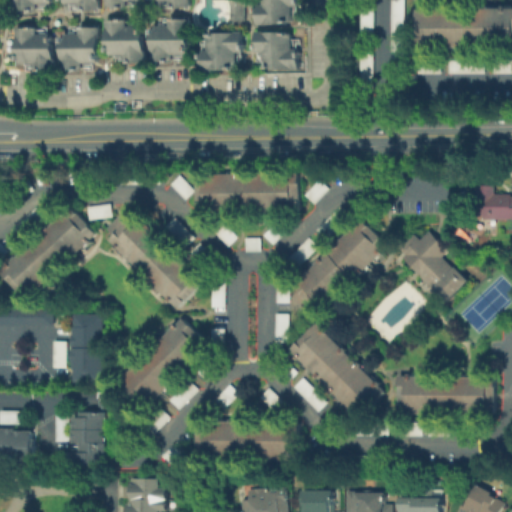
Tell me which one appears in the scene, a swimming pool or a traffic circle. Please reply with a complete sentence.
It is a swimming pool that can be seen here.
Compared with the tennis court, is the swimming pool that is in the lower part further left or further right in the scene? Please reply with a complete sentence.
The swimming pool that is in the lower part is to the left of the tennis court.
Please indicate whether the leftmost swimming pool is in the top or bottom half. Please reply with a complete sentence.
The leftmost swimming pool sits in the top half of the picture.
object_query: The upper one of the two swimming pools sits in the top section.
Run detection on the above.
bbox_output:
[194,0,230,28]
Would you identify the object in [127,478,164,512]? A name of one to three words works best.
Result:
house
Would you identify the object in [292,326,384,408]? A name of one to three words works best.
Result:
building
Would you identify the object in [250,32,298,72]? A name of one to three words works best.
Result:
house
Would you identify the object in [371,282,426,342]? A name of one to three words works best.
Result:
swimming pool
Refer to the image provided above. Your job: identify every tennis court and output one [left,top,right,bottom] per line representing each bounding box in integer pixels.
[454,266,512,345]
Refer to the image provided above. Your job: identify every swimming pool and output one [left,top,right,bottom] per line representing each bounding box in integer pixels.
[194,0,230,28]
[371,282,426,342]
